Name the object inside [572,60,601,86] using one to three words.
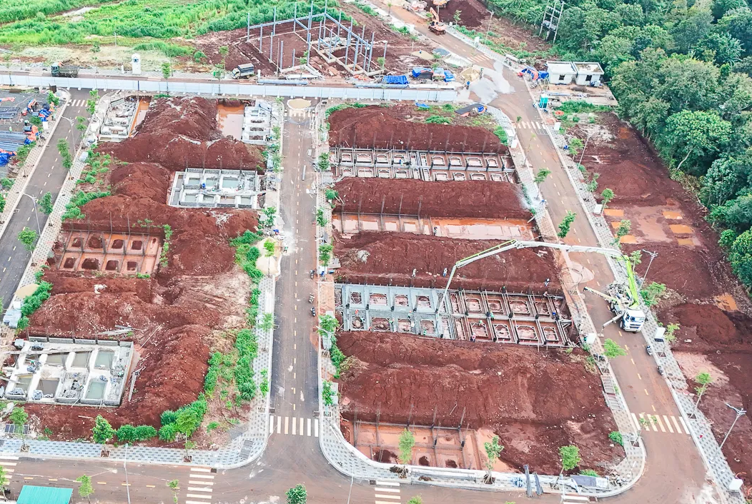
shed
